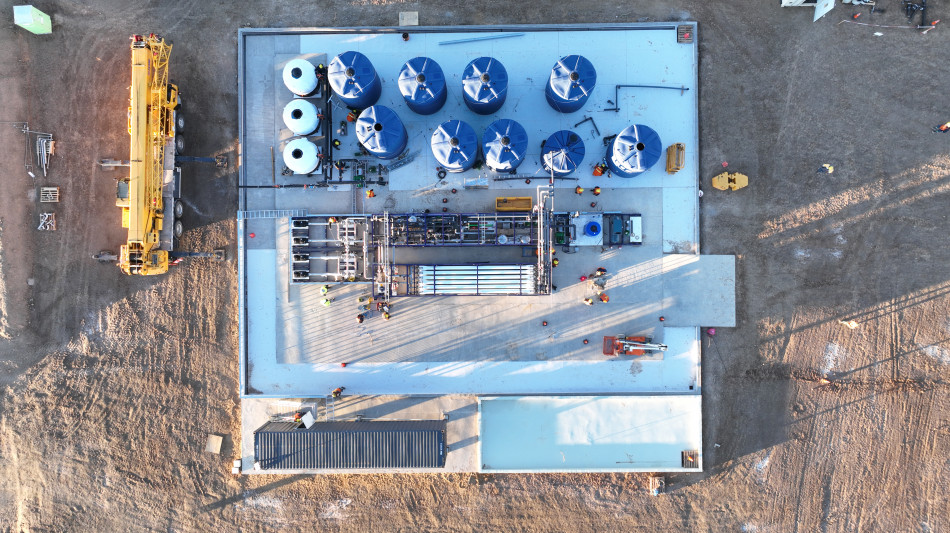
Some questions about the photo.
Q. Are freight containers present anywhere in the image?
Yes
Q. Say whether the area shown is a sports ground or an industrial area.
industrial area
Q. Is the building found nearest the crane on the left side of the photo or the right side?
left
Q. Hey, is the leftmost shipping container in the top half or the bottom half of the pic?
bottom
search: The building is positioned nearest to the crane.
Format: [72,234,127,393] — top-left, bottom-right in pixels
[13,6,51,35]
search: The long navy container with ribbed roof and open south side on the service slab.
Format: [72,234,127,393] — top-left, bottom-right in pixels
[254,411,453,470]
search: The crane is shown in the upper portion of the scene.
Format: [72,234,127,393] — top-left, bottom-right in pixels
[91,32,230,274]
